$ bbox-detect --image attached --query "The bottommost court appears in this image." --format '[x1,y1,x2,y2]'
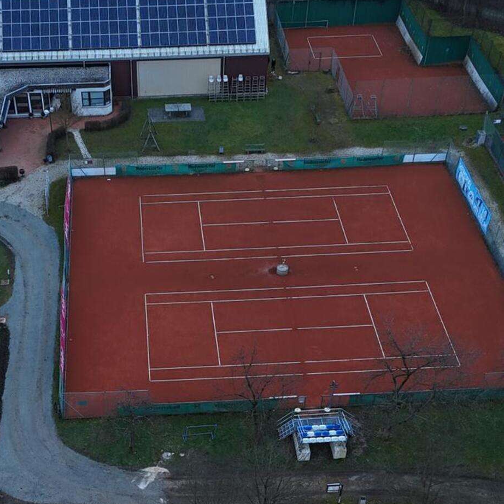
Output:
[65,262,504,419]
